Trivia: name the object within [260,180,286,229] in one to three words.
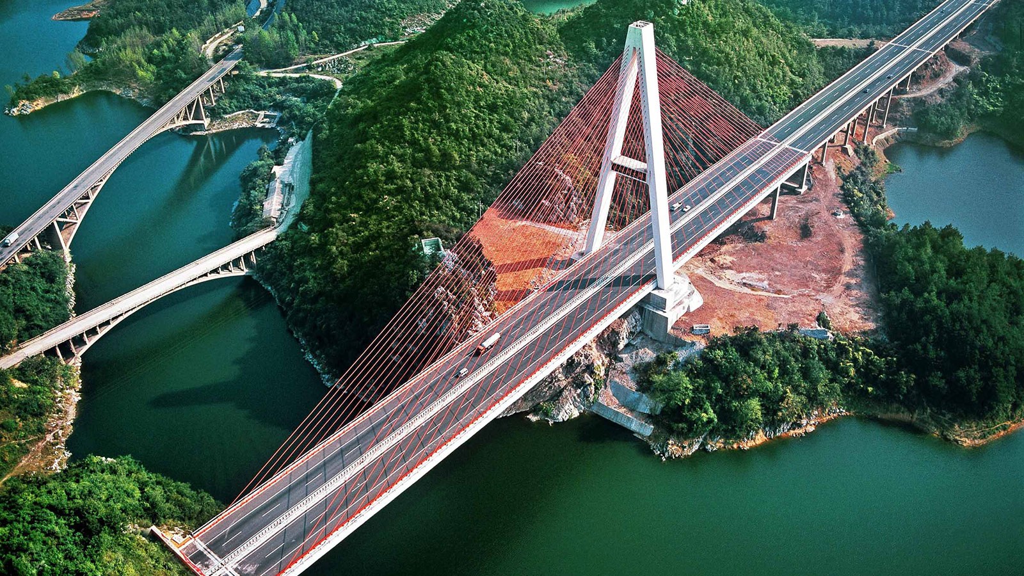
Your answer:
shed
